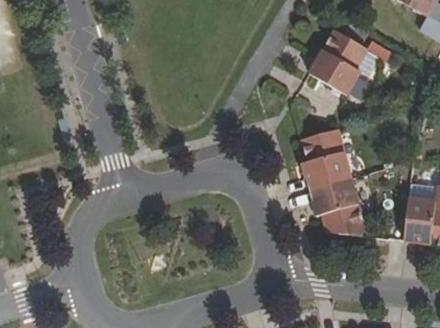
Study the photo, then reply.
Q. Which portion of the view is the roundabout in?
bottom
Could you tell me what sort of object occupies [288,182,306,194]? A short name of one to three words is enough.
vehicle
